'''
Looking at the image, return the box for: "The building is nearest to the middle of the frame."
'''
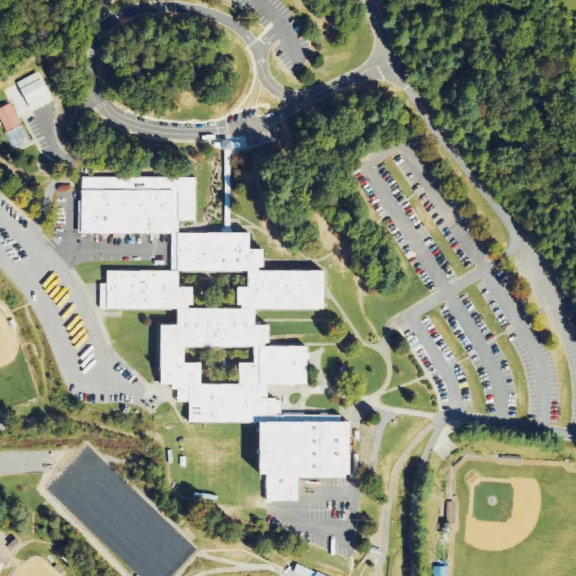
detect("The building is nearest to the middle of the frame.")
[237,270,324,309]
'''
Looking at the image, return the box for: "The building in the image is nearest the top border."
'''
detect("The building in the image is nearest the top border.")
[16,71,52,108]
